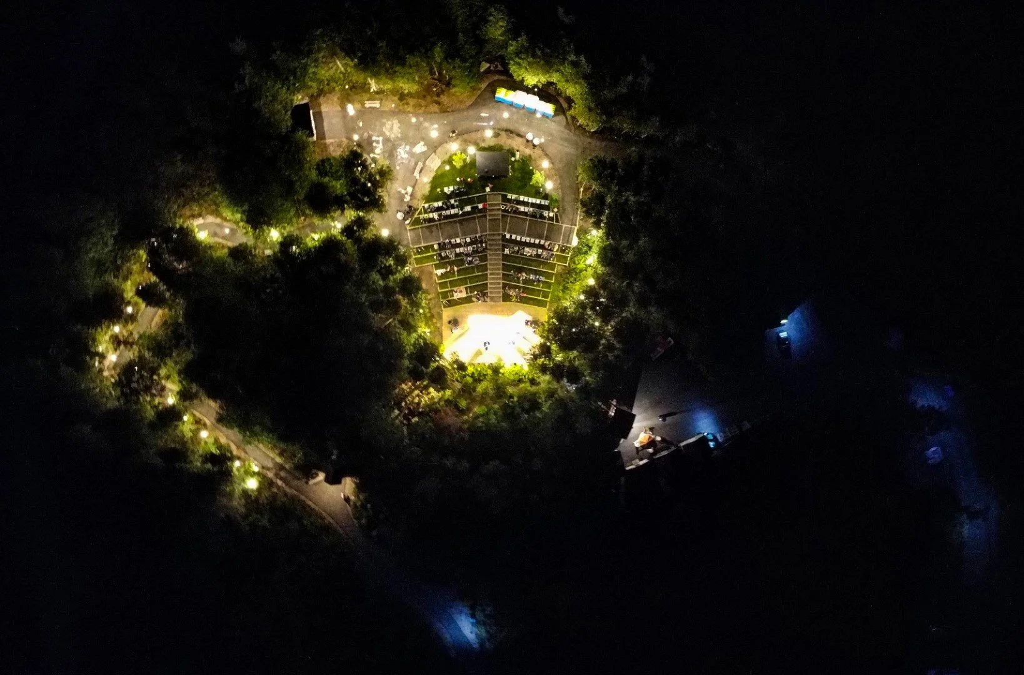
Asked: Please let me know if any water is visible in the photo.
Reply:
No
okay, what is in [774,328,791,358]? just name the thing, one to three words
car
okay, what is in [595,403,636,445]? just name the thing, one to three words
shed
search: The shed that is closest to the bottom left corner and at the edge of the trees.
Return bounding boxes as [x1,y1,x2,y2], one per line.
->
[320,460,357,485]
